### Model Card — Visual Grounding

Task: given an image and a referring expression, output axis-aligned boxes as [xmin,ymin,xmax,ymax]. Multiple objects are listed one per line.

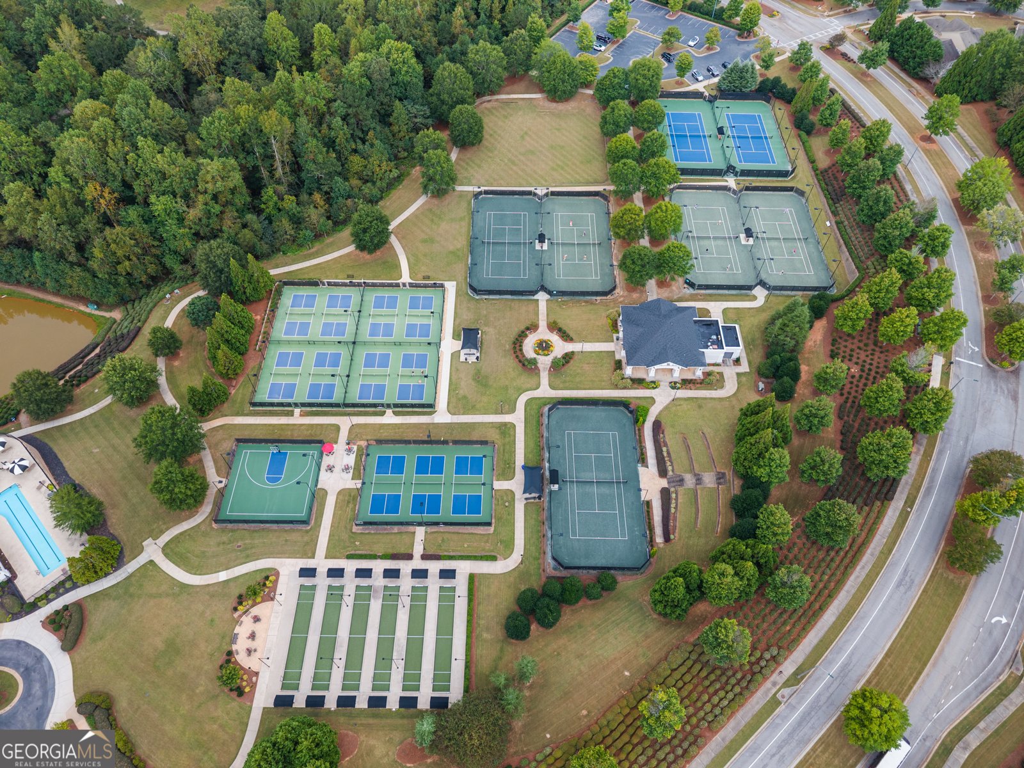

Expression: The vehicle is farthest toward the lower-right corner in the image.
[873,741,914,768]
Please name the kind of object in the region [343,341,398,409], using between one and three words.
sports court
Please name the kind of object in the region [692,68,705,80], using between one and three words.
vehicle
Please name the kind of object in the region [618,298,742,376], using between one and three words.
building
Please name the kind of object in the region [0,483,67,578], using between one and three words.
swimming pool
